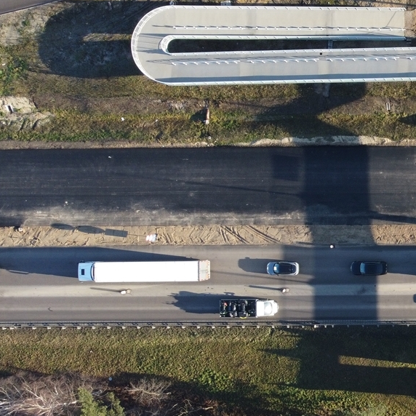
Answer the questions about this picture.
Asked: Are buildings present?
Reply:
No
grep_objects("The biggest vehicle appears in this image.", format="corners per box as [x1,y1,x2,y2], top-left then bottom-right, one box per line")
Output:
[76,259,211,283]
